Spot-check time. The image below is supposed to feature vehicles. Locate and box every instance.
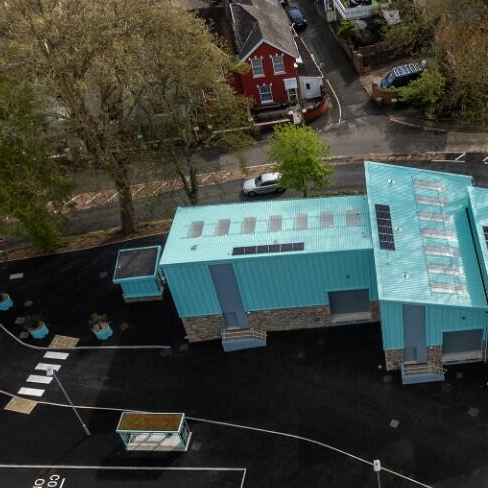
[281,0,310,24]
[240,171,287,198]
[380,60,431,93]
